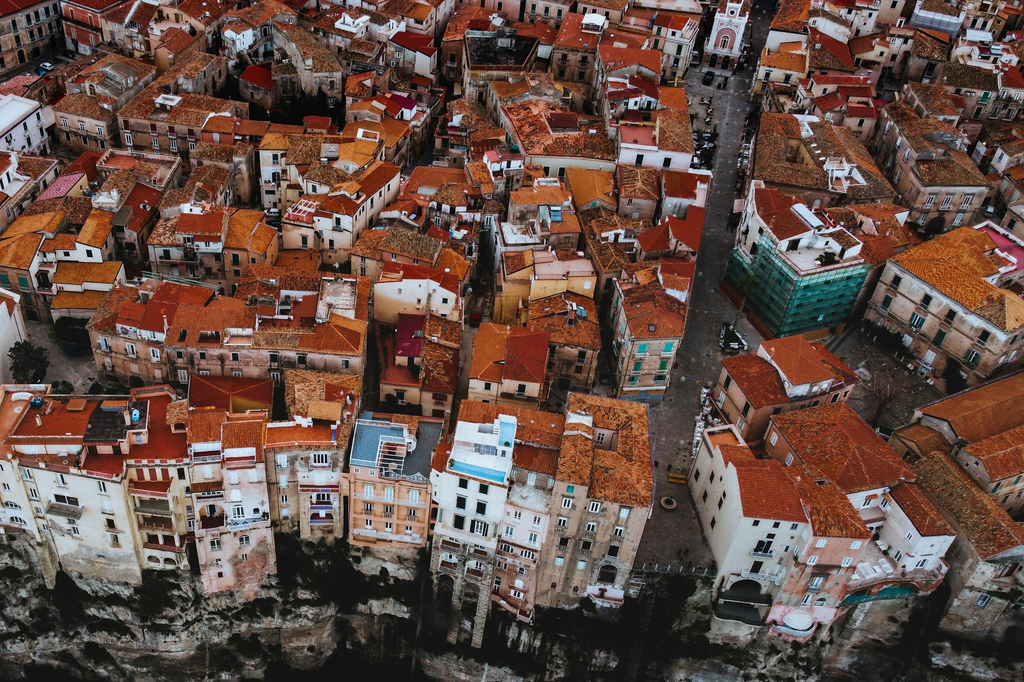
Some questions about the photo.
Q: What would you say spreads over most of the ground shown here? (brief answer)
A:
buildings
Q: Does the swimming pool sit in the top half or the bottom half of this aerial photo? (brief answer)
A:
bottom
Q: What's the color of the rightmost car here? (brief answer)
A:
black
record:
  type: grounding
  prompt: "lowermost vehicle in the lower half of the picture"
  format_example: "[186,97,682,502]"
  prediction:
[868,419,896,444]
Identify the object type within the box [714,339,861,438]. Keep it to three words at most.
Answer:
house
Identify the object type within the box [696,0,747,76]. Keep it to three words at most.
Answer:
building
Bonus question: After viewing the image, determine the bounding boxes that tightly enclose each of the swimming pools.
[452,461,506,482]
